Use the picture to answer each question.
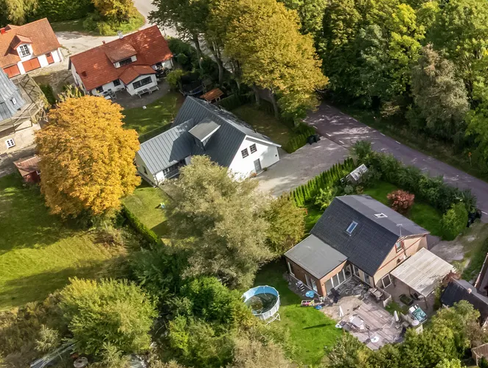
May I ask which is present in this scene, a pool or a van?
pool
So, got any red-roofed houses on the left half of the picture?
Yes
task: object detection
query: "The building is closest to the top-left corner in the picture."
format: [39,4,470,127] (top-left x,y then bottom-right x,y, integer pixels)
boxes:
[0,18,64,76]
